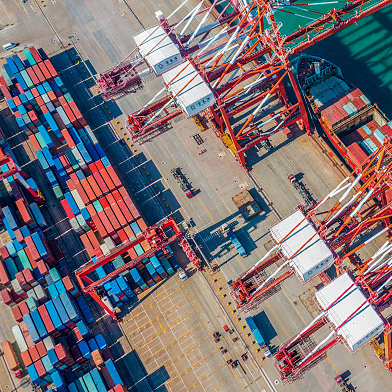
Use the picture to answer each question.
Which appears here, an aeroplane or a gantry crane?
gantry crane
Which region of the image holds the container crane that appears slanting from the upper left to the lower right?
left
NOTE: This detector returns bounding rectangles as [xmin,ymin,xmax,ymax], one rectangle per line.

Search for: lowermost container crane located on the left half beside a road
[75,216,204,326]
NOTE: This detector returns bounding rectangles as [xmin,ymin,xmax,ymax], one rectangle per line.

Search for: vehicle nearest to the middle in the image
[169,167,194,199]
